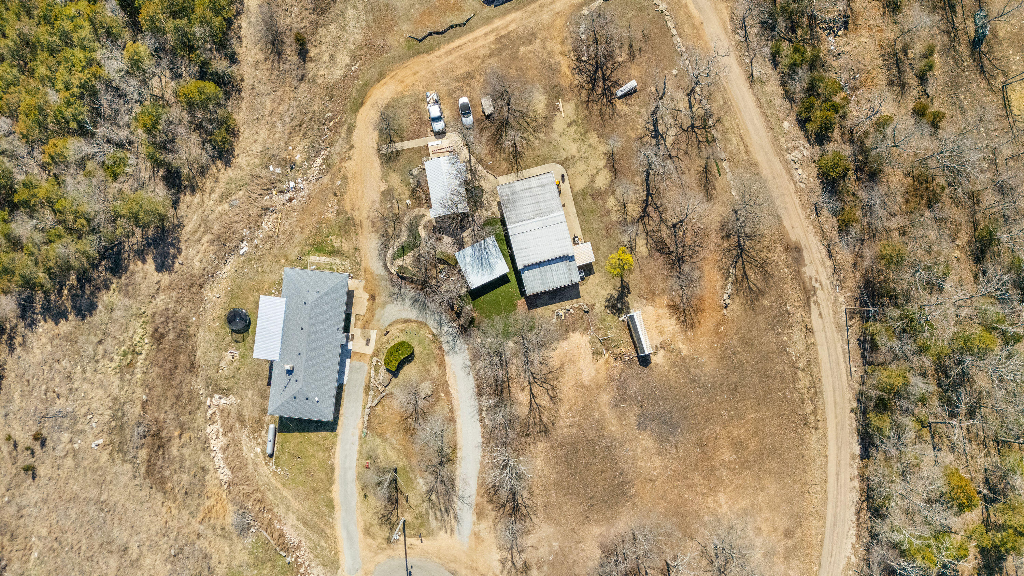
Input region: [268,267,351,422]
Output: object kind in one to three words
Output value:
house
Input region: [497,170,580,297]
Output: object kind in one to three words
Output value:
building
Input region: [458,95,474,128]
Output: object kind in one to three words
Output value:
car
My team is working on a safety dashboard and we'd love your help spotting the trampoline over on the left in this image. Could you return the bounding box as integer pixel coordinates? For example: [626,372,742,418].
[217,305,249,331]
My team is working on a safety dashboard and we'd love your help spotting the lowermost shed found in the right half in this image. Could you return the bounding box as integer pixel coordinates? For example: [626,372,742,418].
[627,311,653,356]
